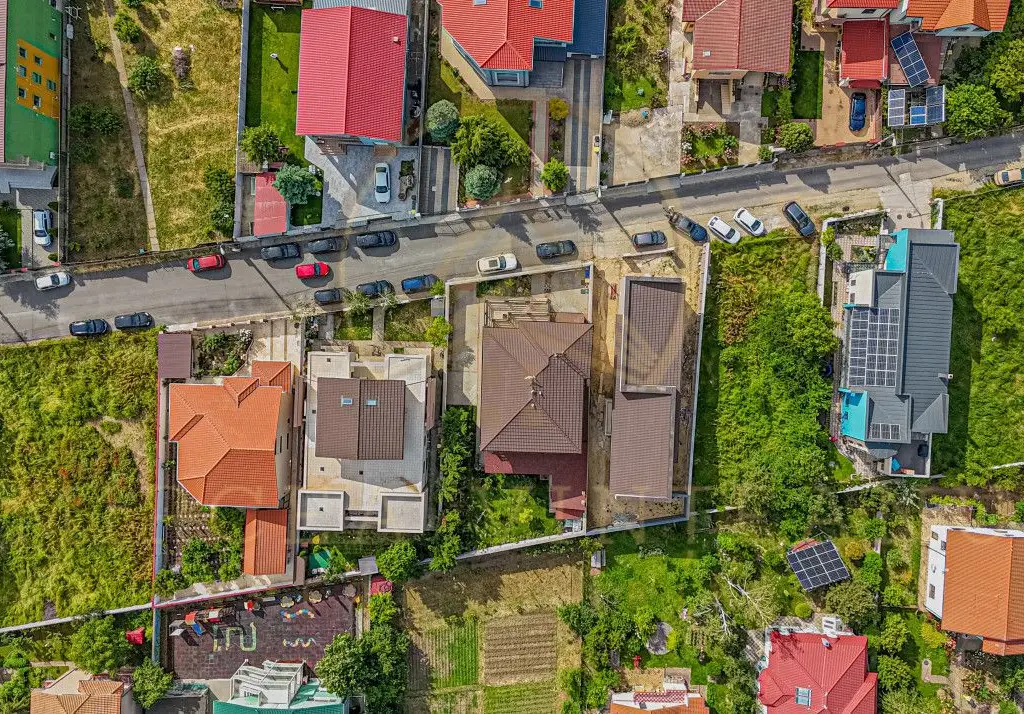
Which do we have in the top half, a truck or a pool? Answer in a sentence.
There is a truck in the top half.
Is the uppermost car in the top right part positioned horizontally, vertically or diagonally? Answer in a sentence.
I'd say the uppermost car in the top right part is aligned vertically in the picture.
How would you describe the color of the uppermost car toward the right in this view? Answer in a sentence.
The color of the uppermost car toward the right is blue.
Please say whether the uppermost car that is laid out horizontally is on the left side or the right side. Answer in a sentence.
The uppermost car that is laid out horizontally sits on the right side.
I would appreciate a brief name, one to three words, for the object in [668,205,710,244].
truck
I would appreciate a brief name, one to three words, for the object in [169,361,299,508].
house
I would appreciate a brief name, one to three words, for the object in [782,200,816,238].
car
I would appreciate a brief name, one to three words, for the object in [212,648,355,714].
building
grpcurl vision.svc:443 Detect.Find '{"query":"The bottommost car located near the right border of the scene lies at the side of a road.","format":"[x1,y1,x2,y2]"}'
[989,168,1024,188]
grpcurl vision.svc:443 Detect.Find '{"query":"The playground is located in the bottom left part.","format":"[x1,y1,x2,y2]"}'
[170,586,356,684]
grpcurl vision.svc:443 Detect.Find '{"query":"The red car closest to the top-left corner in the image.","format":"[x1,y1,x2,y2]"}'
[189,255,225,272]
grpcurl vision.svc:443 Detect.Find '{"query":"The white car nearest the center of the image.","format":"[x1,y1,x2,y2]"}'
[478,253,516,274]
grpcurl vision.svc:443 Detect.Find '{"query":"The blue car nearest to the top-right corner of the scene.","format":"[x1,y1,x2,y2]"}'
[847,94,868,132]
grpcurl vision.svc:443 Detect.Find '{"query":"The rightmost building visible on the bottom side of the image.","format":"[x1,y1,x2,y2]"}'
[927,524,1024,656]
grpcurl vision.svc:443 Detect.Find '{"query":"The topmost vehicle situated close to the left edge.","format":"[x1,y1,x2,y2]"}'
[31,209,55,246]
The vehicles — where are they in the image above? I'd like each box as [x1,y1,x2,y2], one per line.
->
[35,271,74,291]
[263,242,301,261]
[297,262,329,278]
[116,312,153,329]
[304,235,342,255]
[668,205,710,244]
[478,253,516,274]
[632,231,665,248]
[314,289,344,304]
[732,206,764,237]
[31,209,55,246]
[357,279,395,298]
[357,230,396,249]
[847,94,868,132]
[989,168,1024,188]
[536,239,576,259]
[706,216,739,244]
[70,318,110,336]
[373,164,391,202]
[782,200,816,238]
[189,255,225,272]
[403,274,436,292]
